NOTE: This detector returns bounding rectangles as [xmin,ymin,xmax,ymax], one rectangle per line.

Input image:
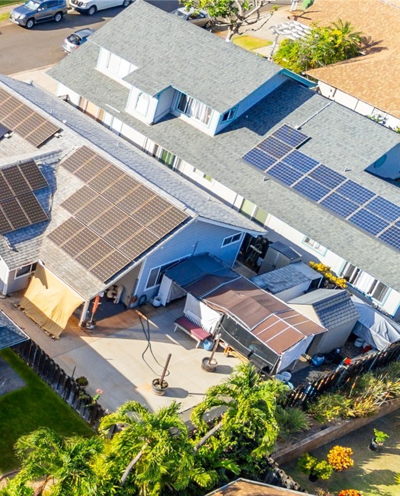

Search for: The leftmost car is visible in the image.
[7,0,70,29]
